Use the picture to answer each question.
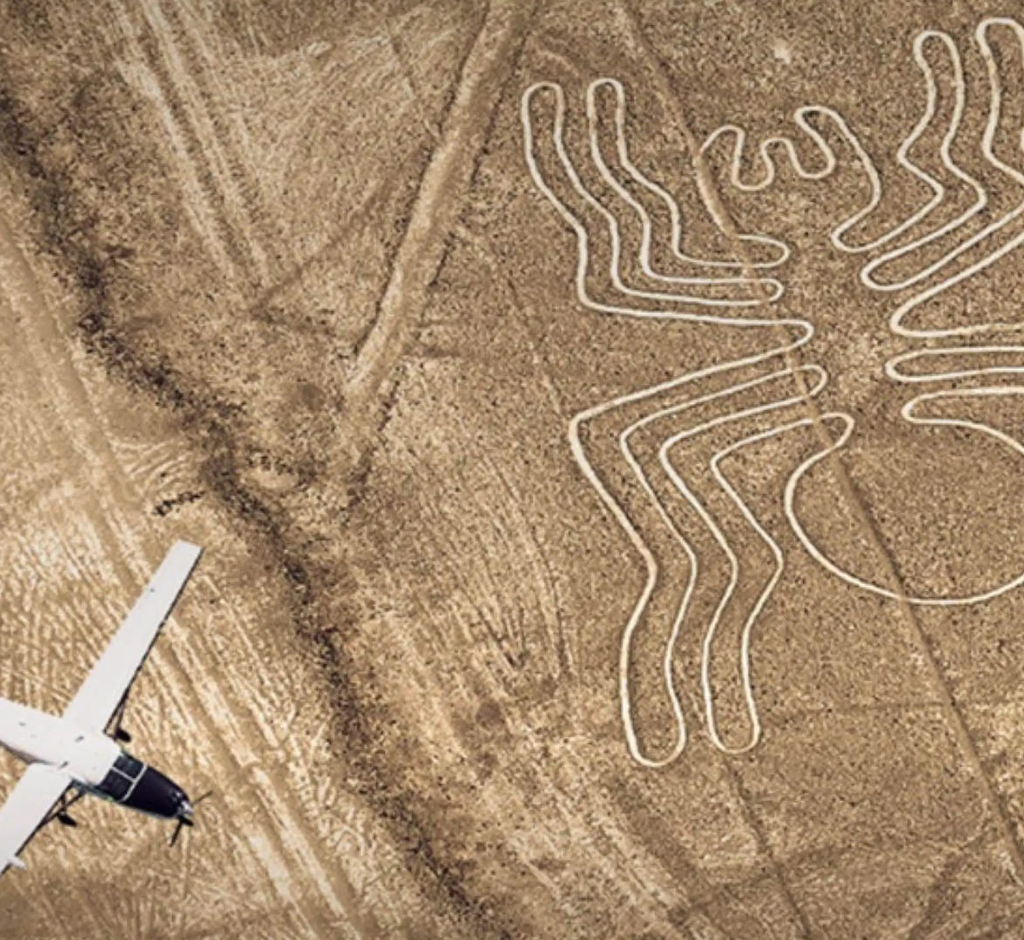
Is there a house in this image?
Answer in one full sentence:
No, there is no house in the image.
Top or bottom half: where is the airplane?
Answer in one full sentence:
Seen from above, the airplane lies in the bottom half of the view.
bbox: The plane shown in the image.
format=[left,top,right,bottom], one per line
[0,540,214,876]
